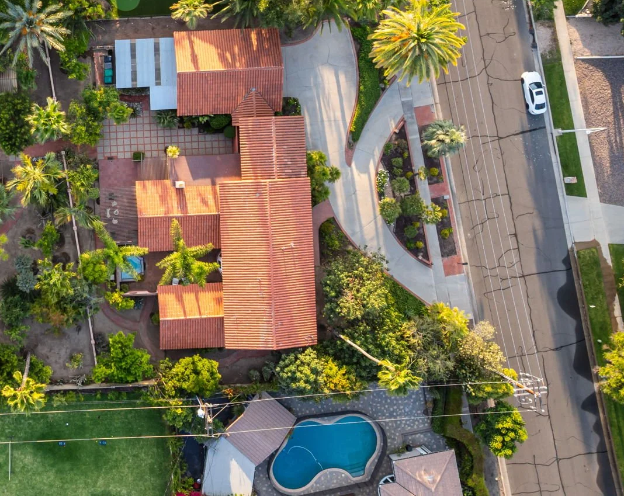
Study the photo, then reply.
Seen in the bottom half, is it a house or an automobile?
house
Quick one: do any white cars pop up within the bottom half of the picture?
No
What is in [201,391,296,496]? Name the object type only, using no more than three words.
building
